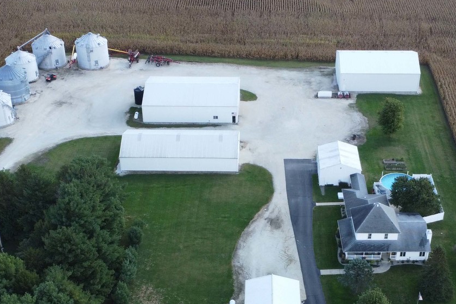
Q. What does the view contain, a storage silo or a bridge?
storage silo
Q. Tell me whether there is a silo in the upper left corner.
Yes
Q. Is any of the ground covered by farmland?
Yes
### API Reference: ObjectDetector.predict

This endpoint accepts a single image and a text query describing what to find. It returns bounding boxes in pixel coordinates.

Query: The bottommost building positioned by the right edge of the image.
[335,171,434,262]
